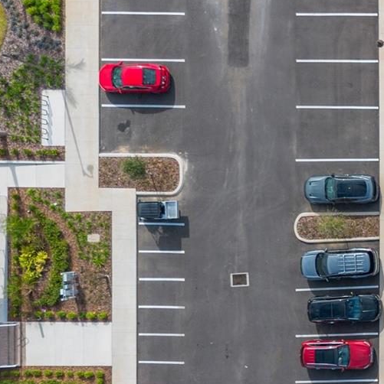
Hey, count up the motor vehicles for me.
six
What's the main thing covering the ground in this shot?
paved ground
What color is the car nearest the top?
red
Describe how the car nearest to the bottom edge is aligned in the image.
from left to right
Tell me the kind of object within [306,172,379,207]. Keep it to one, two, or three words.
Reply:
car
